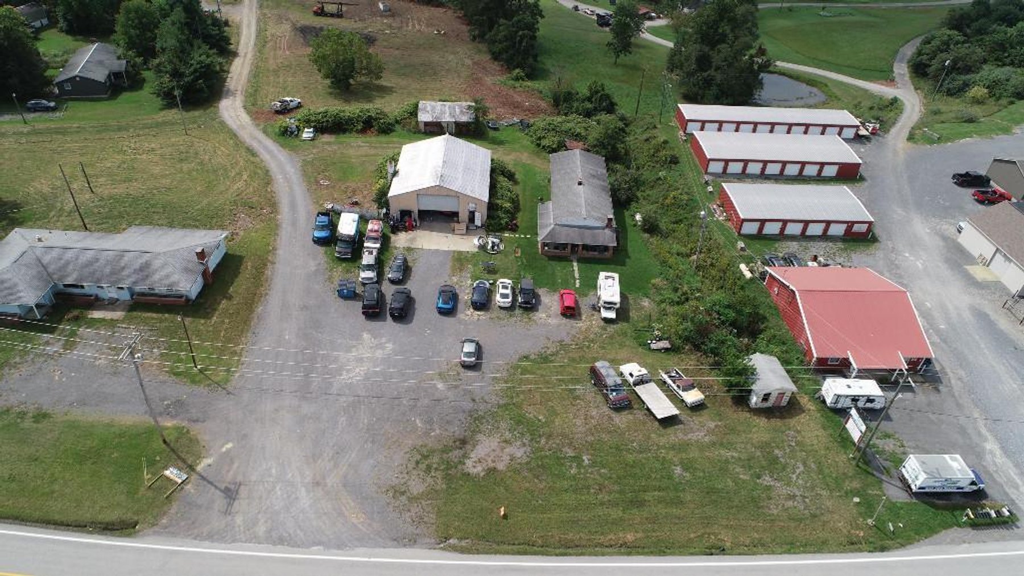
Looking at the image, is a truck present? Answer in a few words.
Yes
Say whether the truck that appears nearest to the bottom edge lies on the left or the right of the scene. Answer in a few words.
right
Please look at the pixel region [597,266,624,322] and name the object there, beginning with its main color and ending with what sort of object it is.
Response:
white camper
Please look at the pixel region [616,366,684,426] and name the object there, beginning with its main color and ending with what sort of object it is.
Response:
white truck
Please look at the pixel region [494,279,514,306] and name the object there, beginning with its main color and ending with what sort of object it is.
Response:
white car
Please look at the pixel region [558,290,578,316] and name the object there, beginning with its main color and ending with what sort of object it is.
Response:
red car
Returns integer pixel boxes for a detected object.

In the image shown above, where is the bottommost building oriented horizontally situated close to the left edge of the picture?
[0,227,234,330]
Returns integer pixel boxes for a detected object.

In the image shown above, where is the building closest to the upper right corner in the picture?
[976,134,1024,198]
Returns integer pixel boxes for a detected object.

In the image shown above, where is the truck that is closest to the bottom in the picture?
[888,458,987,501]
